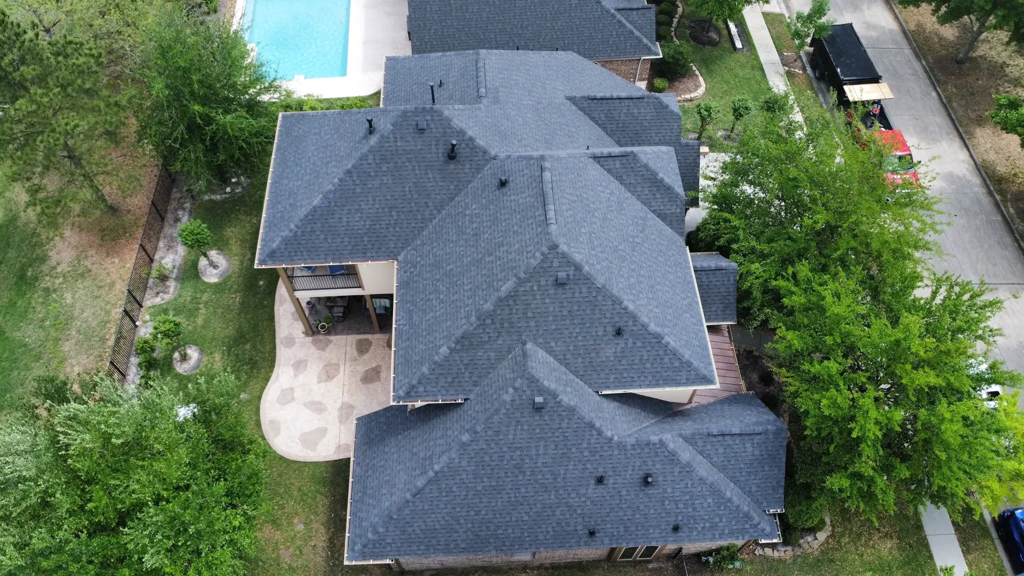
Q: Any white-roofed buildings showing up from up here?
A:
No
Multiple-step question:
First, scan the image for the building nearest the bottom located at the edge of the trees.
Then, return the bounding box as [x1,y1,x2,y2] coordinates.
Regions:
[253,50,787,571]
